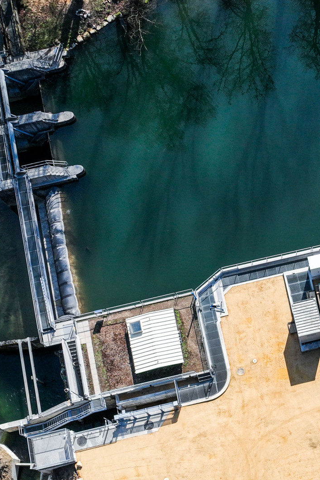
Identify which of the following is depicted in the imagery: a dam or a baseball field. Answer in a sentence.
Visible in the photo is a dam.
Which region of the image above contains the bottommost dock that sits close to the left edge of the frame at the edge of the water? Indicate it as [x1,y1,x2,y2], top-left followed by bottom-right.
[15,163,90,187]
